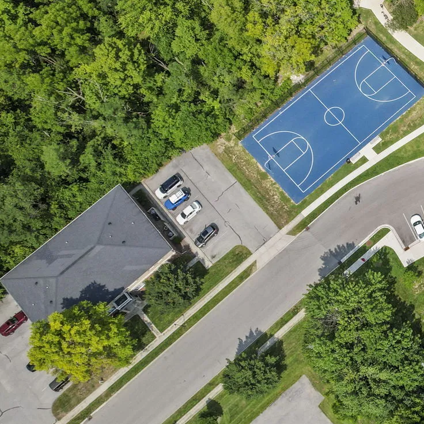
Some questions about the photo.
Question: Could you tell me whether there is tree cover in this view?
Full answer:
Yes, there is tree cover in the image.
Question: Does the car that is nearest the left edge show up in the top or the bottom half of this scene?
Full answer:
It is in the bottom half that the car that is nearest the left edge appears.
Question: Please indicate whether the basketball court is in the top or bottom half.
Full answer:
Seen from above, the basketball court lies in the top half of the view.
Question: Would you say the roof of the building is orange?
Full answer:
No, the roof of the building is actually gray.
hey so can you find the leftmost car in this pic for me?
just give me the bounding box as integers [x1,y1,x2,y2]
[0,310,25,335]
